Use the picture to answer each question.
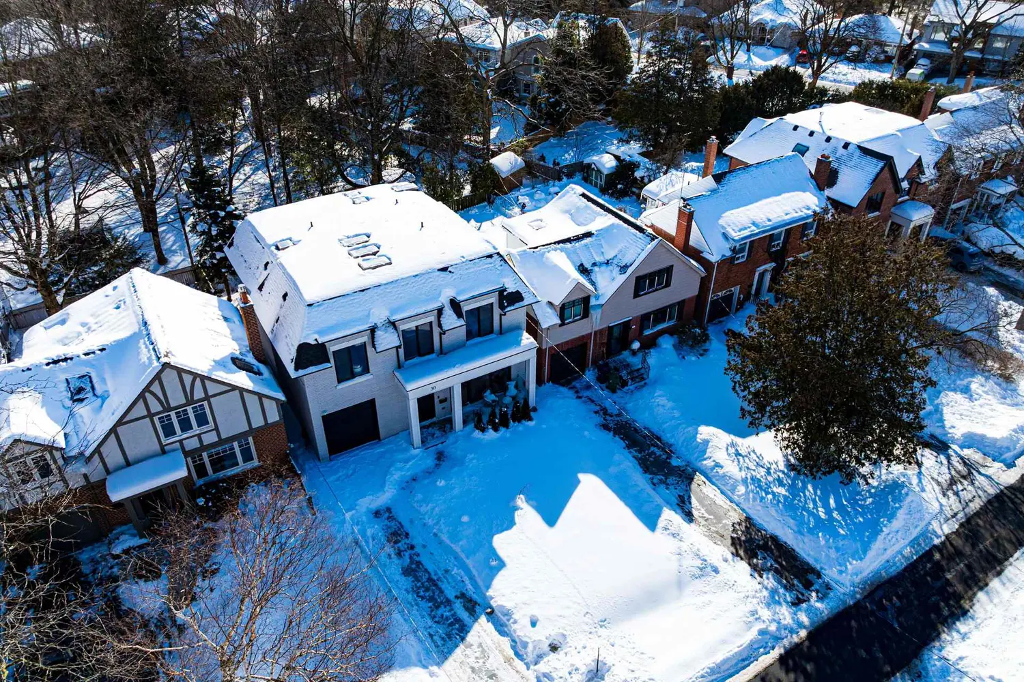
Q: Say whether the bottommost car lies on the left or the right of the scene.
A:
right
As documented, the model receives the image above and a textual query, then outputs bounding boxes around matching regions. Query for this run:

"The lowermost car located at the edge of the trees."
[907,227,986,270]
